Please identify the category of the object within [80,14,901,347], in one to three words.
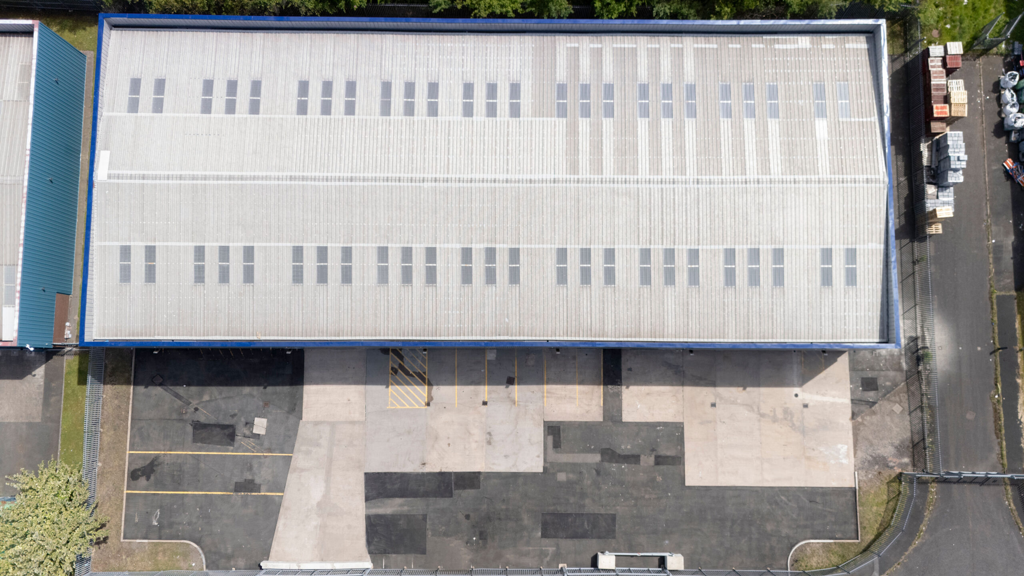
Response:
warehouse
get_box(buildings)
[0,21,87,347]
[80,14,901,347]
